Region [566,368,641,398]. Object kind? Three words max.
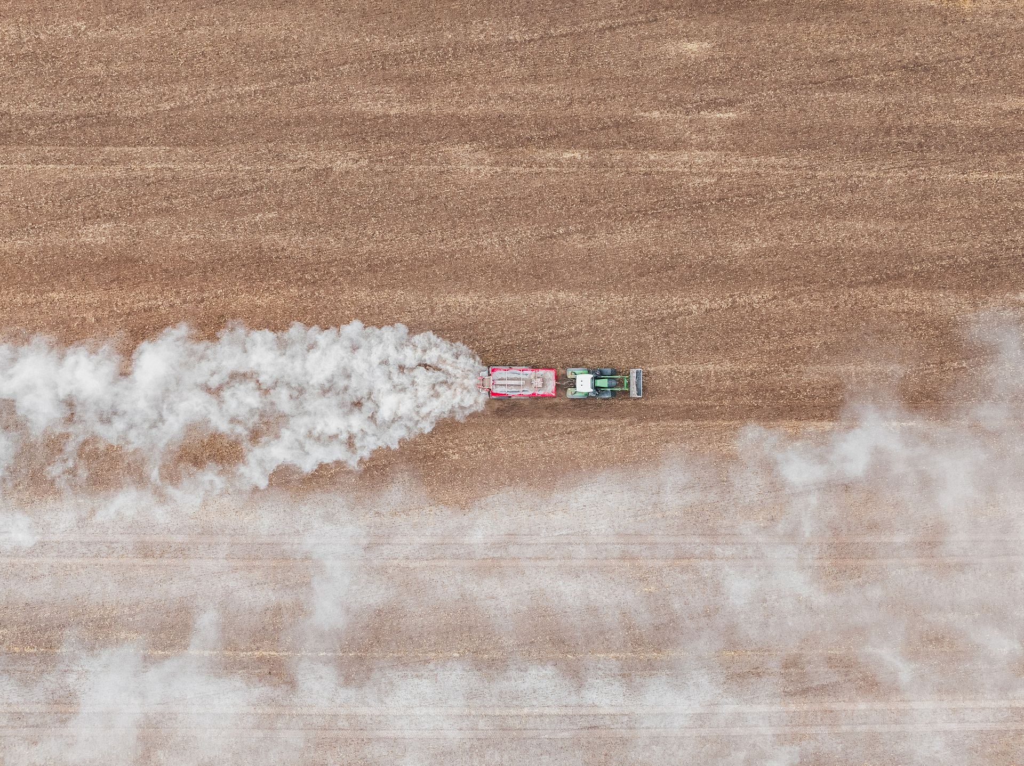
work vehicle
